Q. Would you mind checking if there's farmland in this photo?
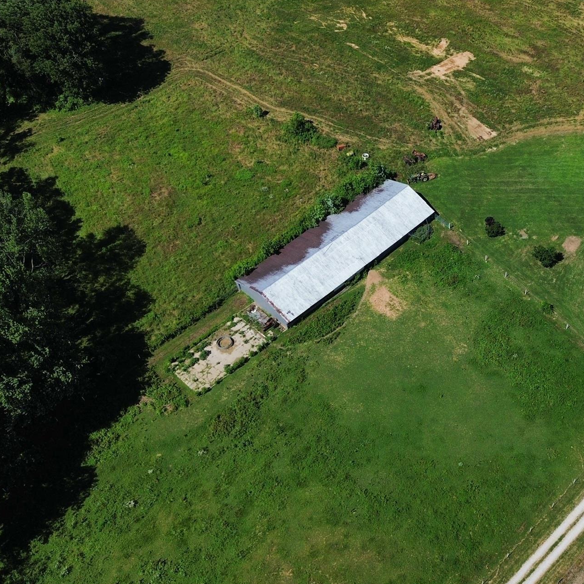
Yes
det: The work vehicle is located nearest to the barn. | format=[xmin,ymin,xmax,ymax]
[407,169,427,184]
